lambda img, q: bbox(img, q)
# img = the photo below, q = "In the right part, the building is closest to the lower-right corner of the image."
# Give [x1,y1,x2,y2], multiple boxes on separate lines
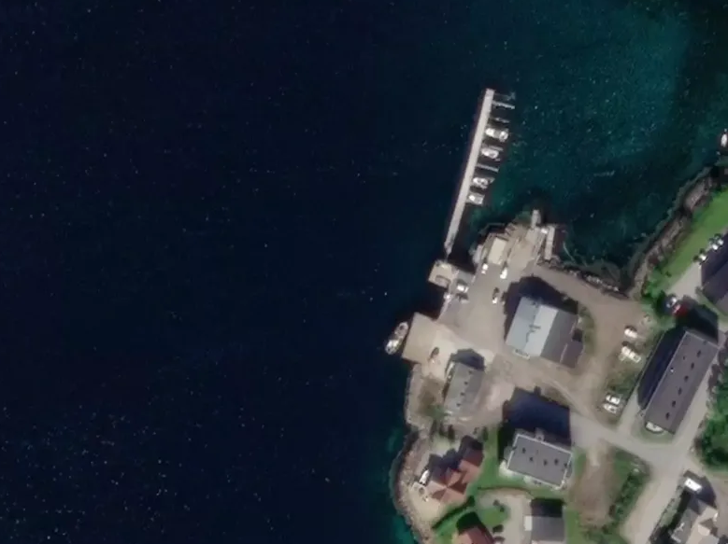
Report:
[666,500,724,544]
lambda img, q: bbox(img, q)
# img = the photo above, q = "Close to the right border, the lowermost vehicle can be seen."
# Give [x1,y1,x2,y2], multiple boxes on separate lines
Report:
[683,478,703,493]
